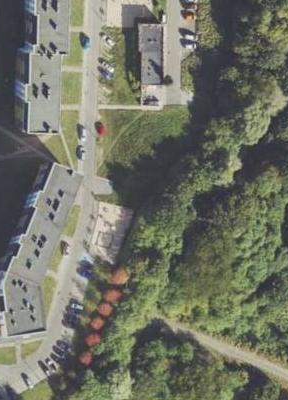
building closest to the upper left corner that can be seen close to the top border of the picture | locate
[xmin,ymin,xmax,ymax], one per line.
[12,0,71,133]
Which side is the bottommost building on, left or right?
left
